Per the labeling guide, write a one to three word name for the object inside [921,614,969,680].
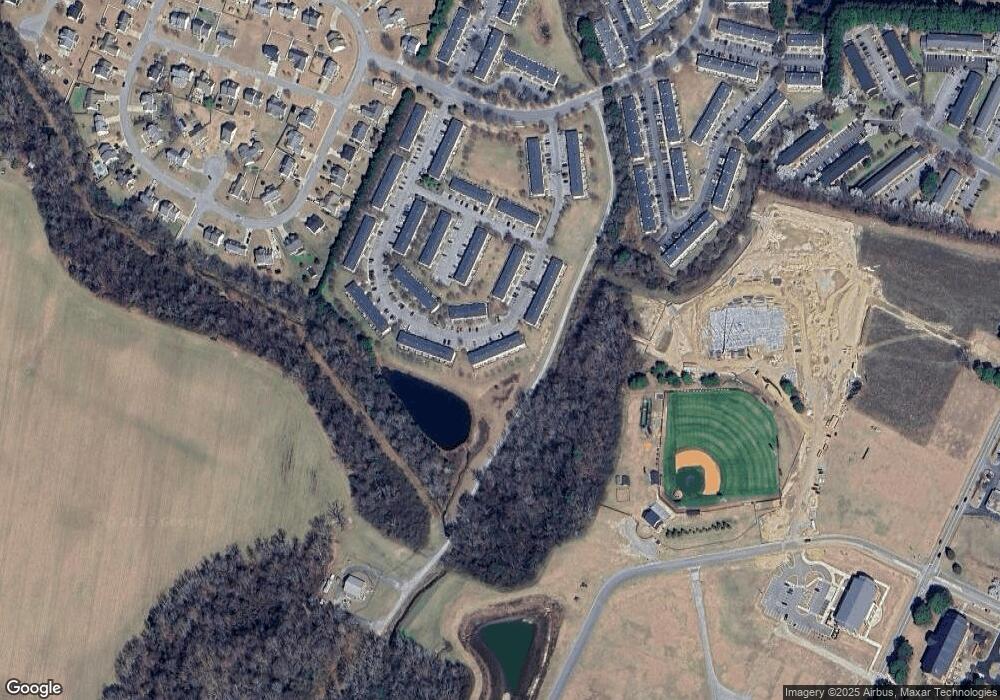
building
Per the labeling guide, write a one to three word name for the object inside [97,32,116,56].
house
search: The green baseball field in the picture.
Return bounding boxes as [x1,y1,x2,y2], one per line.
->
[660,389,781,513]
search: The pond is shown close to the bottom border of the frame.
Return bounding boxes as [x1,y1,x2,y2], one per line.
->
[479,618,536,694]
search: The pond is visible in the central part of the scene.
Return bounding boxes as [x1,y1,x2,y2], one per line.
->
[383,367,472,450]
